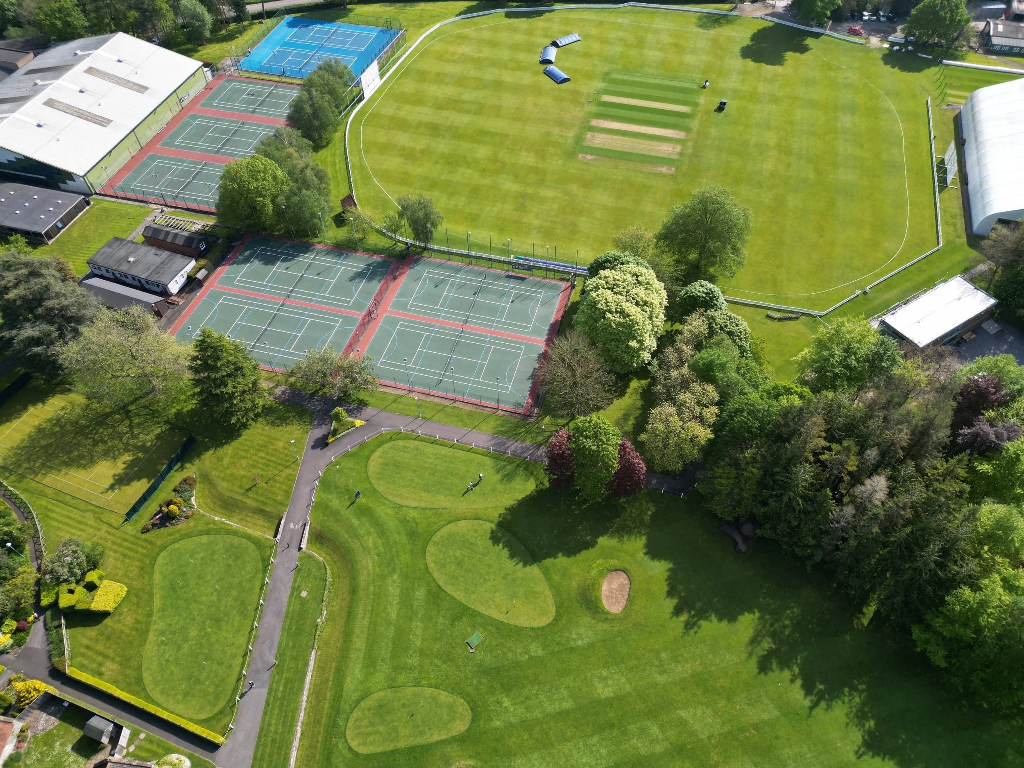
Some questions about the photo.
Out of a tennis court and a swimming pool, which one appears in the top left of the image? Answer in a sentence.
The one visible in the top left of the image is a tennis court.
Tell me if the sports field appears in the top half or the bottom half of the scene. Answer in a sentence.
The top half of the photo is where the sports field is.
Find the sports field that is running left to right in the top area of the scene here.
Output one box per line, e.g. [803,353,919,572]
[346,5,940,315]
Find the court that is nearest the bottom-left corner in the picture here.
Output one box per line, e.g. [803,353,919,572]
[0,377,188,520]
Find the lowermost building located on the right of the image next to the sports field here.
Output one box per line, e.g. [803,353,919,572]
[868,276,1001,359]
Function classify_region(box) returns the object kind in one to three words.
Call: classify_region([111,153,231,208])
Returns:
tennis court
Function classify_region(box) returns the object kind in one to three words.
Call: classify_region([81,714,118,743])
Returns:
shed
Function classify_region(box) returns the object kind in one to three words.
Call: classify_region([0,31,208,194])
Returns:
building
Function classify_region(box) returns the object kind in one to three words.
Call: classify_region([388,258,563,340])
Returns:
tennis court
